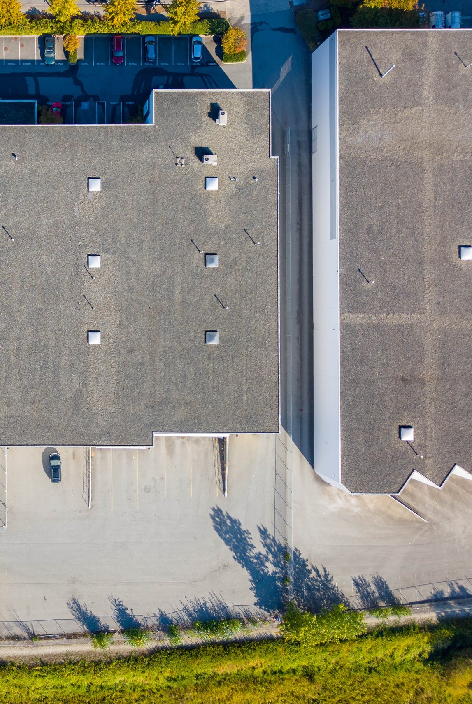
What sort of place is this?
industrial area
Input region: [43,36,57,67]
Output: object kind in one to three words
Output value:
car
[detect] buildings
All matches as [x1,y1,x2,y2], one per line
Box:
[0,88,281,451]
[312,29,472,495]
